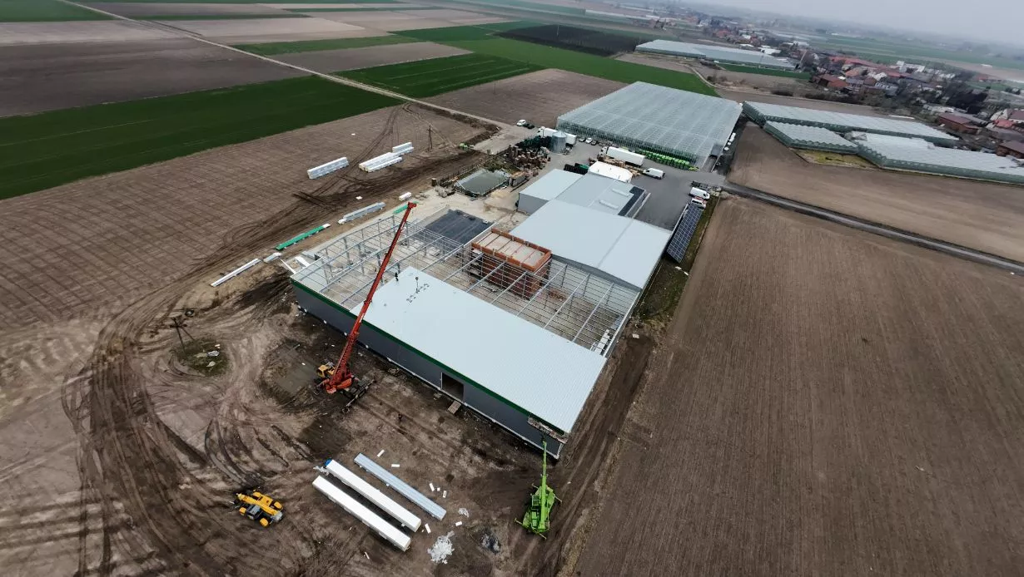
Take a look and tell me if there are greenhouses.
Yes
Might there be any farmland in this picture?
Yes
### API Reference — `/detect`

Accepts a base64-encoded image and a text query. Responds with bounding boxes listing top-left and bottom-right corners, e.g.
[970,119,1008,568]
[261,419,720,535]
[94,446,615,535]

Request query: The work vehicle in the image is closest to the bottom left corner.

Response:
[231,490,291,534]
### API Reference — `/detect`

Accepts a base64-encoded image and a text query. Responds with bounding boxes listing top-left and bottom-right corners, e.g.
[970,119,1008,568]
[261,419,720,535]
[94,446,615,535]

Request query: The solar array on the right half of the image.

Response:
[663,201,705,265]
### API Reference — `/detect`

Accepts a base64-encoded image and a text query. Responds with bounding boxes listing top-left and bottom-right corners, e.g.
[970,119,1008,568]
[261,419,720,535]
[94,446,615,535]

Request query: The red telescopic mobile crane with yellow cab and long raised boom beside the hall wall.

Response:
[312,199,421,415]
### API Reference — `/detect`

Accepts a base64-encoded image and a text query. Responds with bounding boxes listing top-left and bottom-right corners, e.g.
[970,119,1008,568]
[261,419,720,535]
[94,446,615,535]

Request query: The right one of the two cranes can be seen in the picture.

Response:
[511,437,566,544]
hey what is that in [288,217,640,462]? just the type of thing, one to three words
building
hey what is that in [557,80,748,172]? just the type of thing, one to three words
greenhouse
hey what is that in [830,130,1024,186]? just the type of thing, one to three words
greenhouse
